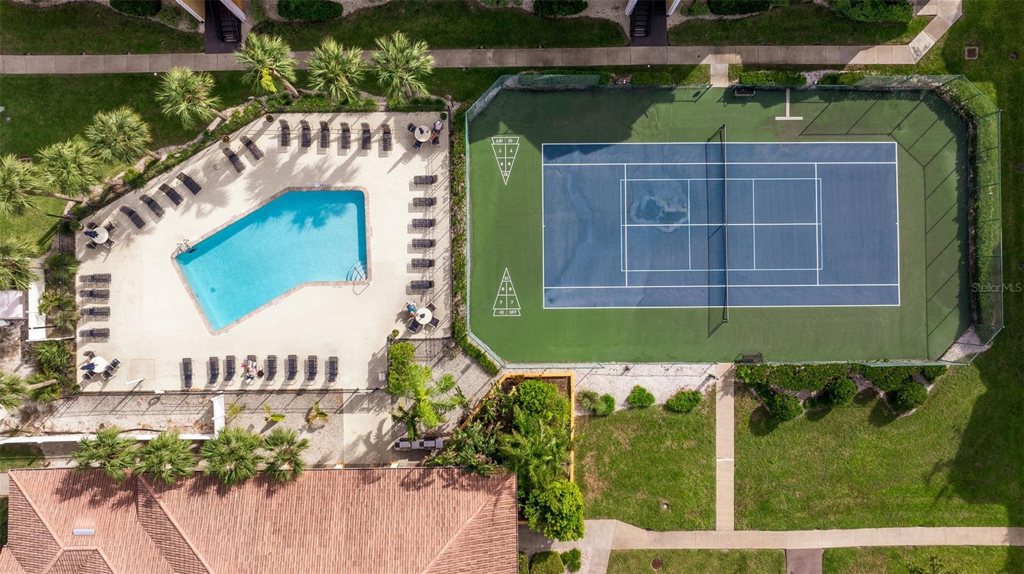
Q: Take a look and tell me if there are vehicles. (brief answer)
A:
No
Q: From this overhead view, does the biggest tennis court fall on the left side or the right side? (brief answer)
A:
right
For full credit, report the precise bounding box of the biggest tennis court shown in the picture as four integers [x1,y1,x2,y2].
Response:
[470,87,971,363]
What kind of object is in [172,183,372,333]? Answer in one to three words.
swimming pool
